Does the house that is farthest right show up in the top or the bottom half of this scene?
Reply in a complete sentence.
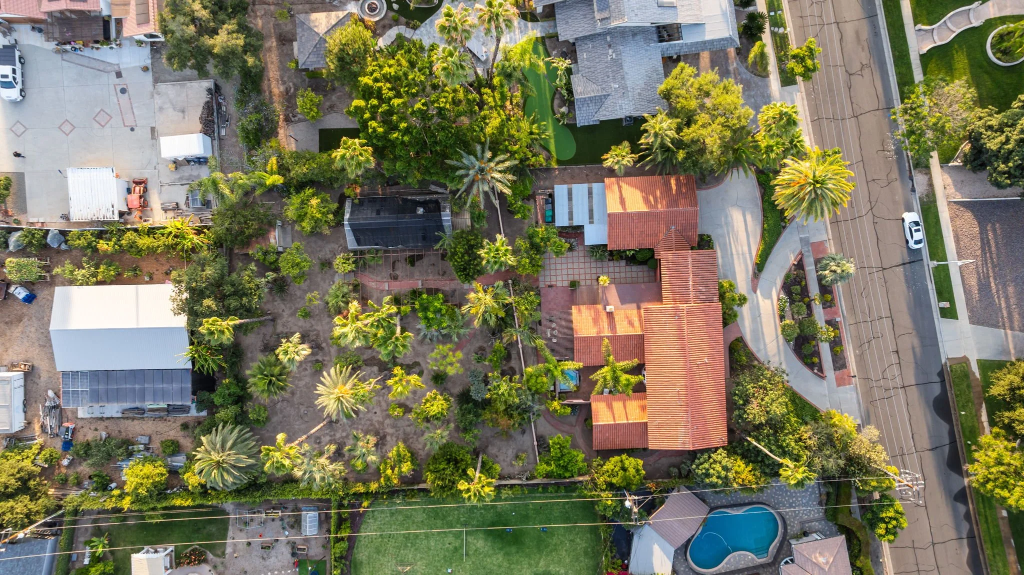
The house that is farthest right is in the bottom half of the image.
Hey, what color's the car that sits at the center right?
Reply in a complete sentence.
The car that sits at the center right looks white in the image.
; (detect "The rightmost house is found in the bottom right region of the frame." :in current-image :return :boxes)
[772,532,851,575]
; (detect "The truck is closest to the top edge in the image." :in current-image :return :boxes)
[0,44,25,104]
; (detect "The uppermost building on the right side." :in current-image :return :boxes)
[533,0,741,127]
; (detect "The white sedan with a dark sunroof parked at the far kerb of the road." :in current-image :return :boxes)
[902,211,925,250]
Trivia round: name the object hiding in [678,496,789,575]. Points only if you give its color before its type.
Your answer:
blue swimming pool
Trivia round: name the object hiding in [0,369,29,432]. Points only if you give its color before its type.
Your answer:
white trailer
